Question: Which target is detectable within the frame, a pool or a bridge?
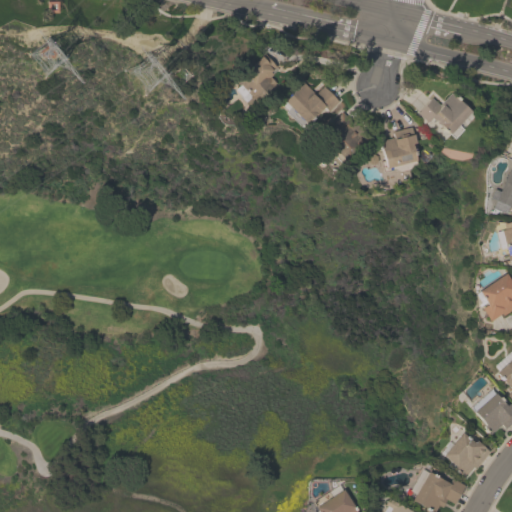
pool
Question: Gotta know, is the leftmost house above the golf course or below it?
above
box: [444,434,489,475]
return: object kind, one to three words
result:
house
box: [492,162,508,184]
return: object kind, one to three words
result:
swimming pool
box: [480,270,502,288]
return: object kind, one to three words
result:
swimming pool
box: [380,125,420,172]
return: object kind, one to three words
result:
house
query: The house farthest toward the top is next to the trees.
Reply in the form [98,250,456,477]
[238,56,282,102]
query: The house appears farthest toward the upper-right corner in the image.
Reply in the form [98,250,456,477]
[421,96,474,138]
